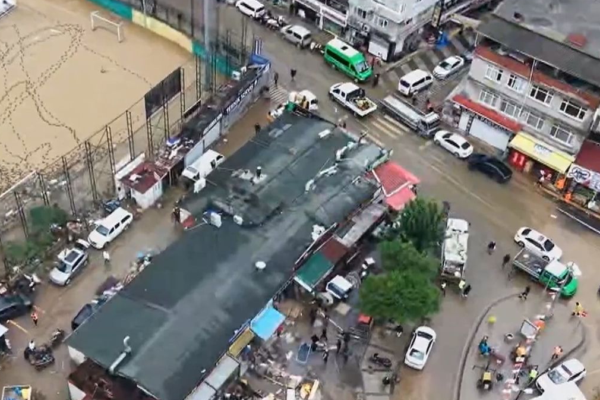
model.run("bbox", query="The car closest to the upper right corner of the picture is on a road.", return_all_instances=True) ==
[433,58,466,79]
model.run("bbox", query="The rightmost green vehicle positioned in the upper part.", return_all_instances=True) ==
[323,38,370,80]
